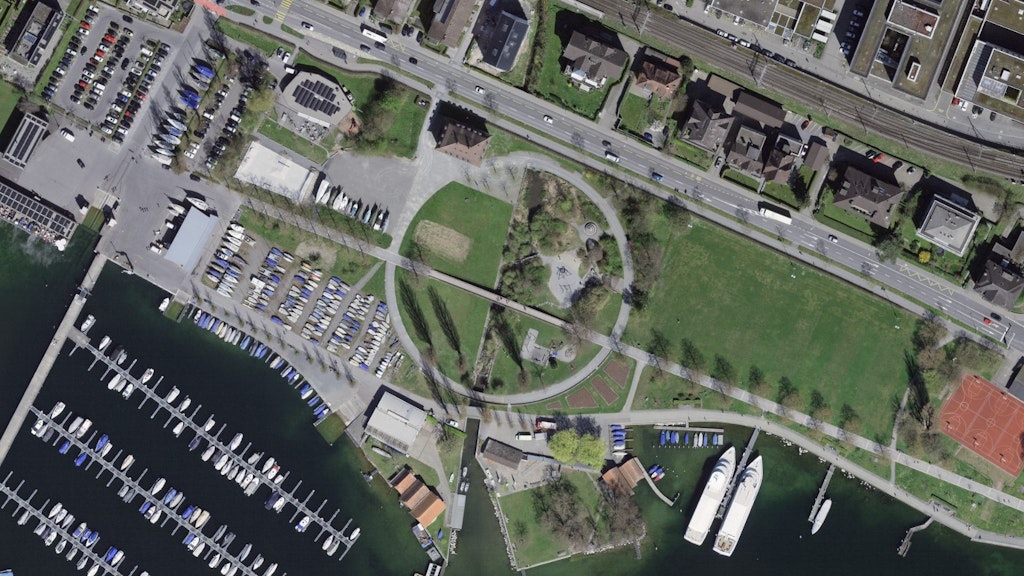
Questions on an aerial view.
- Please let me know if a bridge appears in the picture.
Yes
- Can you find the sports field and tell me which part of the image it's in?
right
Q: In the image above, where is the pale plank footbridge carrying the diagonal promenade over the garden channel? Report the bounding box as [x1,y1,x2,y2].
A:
[427,269,557,321]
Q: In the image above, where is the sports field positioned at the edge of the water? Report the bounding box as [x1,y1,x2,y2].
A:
[625,212,922,439]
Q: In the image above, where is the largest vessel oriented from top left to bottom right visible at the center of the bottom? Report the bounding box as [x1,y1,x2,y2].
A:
[409,519,436,552]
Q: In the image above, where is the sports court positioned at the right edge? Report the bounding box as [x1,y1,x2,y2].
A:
[940,374,1024,476]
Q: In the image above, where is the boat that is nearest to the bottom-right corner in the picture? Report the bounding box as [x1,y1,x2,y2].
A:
[813,499,832,533]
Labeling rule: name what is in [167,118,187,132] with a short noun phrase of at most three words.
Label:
boat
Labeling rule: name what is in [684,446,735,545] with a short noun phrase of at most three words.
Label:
ship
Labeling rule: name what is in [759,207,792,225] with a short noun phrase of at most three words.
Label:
vehicle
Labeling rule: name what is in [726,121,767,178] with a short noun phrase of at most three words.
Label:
house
